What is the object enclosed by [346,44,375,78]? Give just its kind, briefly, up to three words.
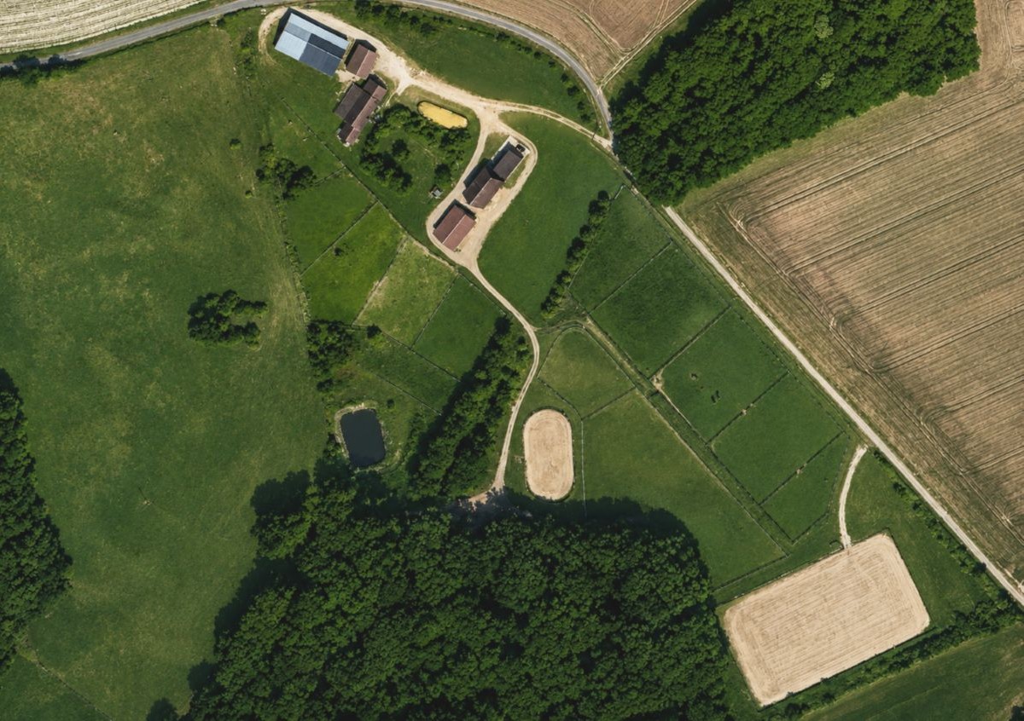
house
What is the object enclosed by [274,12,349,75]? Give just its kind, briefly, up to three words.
barn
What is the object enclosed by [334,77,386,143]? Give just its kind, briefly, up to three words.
house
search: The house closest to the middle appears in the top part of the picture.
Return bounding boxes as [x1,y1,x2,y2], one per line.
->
[434,205,475,250]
